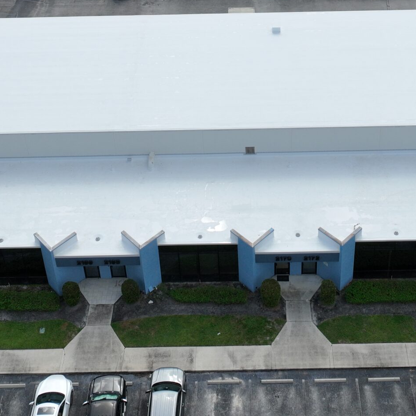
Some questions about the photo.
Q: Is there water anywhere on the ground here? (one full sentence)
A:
No, the picture contains no water.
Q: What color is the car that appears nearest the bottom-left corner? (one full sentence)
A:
The car that appears nearest the bottom-left corner is white.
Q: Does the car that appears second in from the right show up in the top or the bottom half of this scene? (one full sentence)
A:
You can find the car that appears second in from the right in the bottom half.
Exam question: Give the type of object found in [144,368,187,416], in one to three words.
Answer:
car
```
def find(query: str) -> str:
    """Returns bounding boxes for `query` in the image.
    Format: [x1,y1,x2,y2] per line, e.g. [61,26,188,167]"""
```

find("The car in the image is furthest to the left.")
[29,374,70,416]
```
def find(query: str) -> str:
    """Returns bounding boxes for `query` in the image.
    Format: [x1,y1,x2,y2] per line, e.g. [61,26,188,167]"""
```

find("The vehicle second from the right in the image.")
[84,375,127,416]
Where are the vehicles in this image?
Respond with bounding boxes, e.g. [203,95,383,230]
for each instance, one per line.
[144,368,187,416]
[84,375,127,416]
[29,374,70,416]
